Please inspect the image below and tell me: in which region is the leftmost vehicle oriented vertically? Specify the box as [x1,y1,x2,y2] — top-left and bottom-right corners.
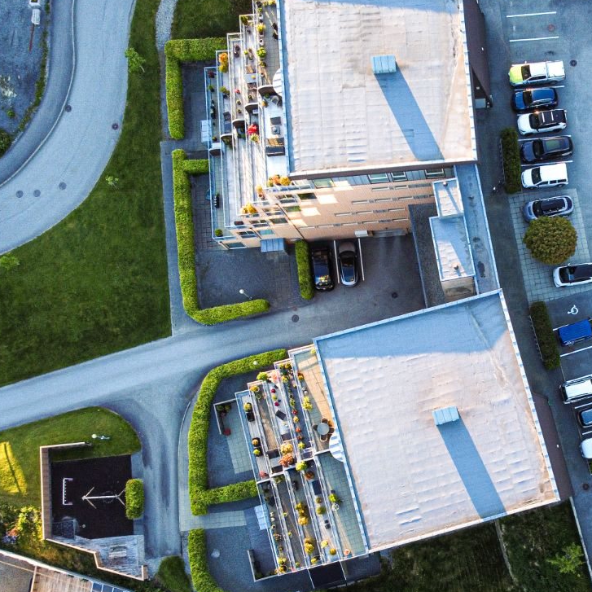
[310,245,334,291]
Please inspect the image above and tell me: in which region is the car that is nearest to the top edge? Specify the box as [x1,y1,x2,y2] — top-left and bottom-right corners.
[511,58,565,86]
